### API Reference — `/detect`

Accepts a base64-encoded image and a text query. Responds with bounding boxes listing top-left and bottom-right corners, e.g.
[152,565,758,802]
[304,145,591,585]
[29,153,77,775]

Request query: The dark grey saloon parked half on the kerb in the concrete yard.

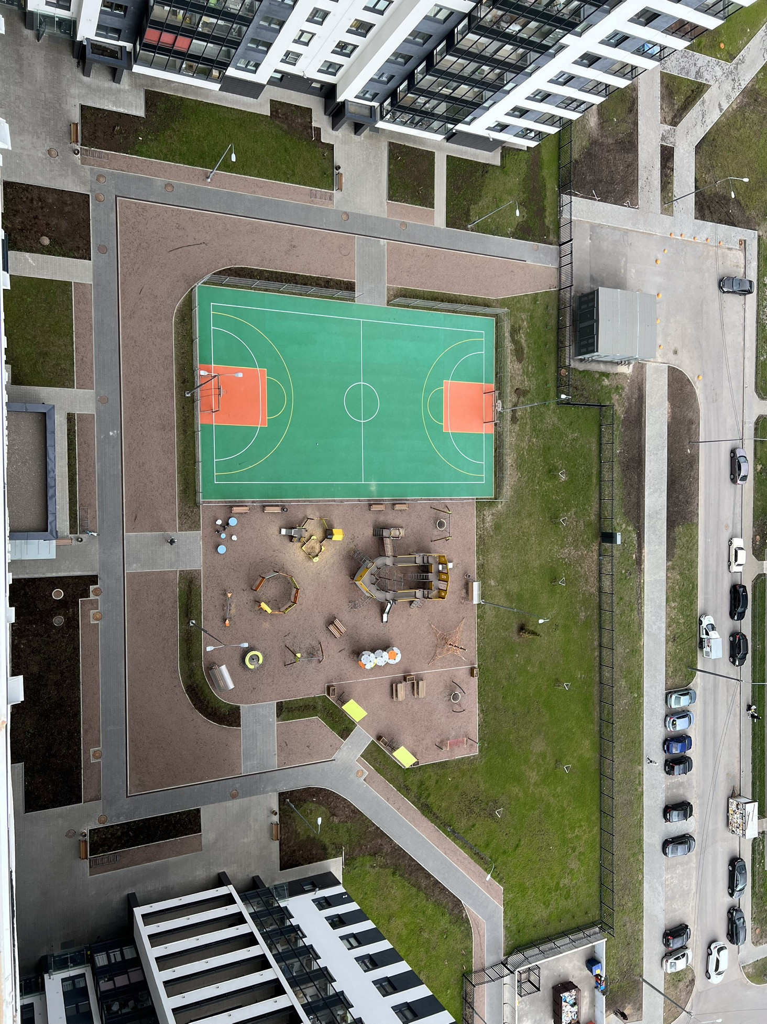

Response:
[716,274,746,296]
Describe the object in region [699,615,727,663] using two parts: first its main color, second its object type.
white truck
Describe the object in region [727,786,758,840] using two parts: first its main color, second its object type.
white trailer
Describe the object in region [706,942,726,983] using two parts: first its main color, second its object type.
white car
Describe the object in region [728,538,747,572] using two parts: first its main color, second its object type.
white car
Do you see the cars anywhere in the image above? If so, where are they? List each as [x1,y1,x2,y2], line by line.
[716,274,746,296]
[663,833,695,857]
[662,946,693,973]
[664,754,695,777]
[730,447,749,484]
[665,710,694,731]
[666,689,697,708]
[726,906,747,949]
[663,800,694,823]
[728,583,747,622]
[728,857,747,898]
[728,538,747,572]
[663,923,692,950]
[663,735,693,754]
[706,942,726,983]
[729,632,748,667]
